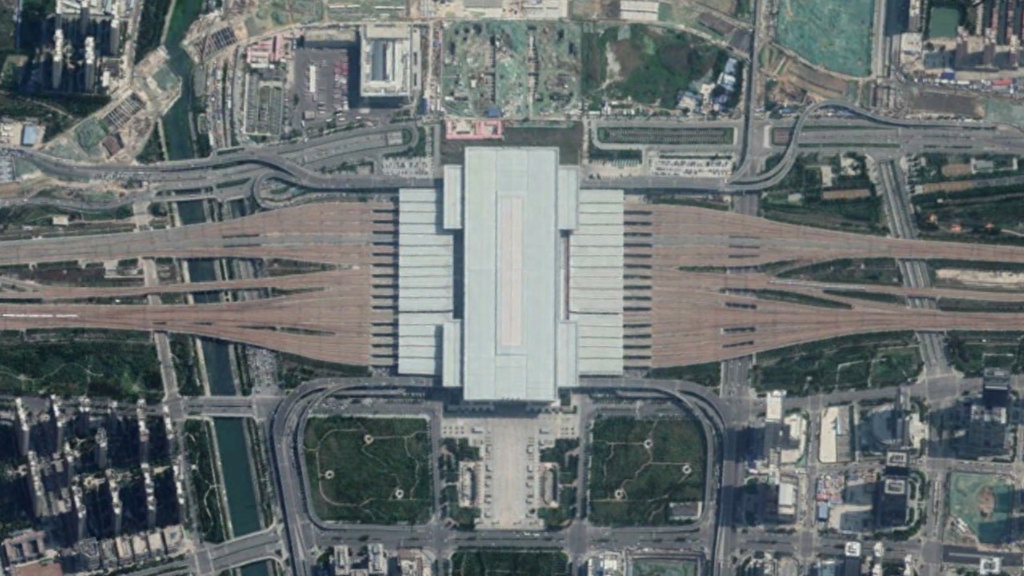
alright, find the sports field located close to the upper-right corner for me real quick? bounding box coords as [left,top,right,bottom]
[929,7,958,37]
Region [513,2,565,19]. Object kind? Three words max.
shed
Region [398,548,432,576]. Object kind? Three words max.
building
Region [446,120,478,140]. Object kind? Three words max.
building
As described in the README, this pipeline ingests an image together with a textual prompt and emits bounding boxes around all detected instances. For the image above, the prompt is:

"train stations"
[371,147,652,415]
